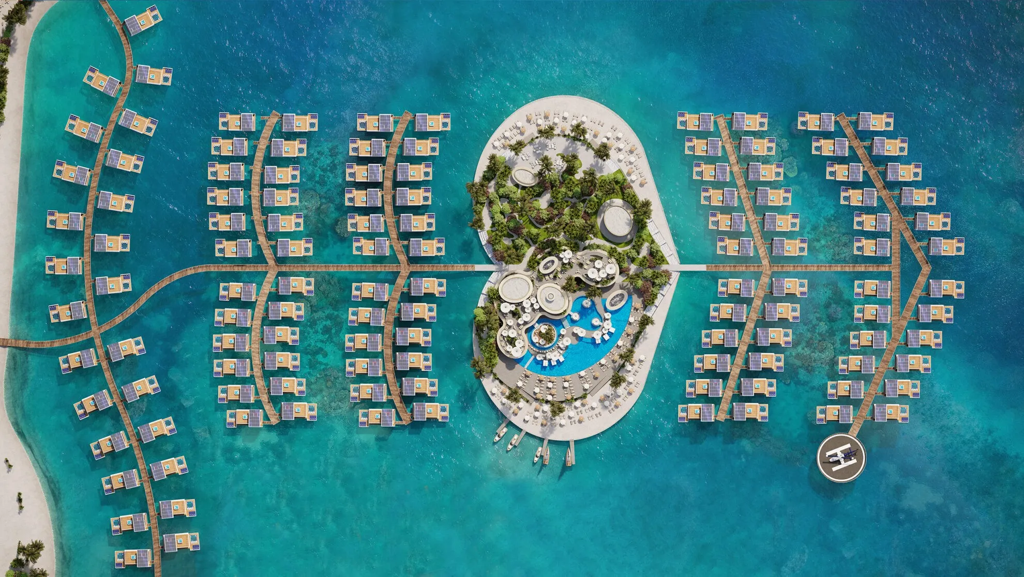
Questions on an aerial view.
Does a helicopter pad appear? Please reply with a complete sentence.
Yes, the photo shows a helicopter pad.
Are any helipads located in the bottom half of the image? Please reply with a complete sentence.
Yes, a helipad shows up in the bottom half of the image.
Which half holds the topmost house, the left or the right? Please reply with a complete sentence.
You can find the topmost house on the left side of the picture.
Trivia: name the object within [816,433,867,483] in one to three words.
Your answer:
helipad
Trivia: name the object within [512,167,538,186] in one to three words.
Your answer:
building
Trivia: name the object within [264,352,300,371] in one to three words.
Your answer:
house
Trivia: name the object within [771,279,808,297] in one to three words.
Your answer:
house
